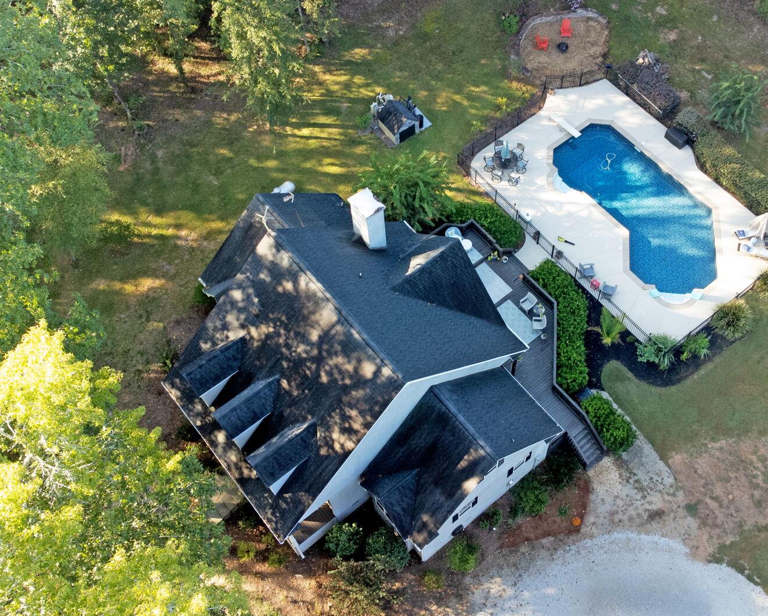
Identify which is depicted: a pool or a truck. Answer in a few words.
pool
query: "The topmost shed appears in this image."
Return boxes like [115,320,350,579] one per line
[374,97,421,144]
